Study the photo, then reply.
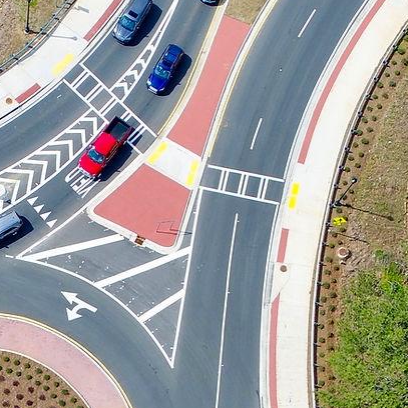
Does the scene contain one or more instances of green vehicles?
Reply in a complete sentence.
No, there isn't any green vehicle down there.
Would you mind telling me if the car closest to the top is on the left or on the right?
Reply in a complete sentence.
You can find the car closest to the top on the left side of the picture.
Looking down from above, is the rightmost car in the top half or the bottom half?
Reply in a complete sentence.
You can find the rightmost car in the top half.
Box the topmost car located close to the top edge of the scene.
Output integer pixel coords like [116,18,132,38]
[116,0,151,38]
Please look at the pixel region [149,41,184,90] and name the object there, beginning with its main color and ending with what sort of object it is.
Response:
blue car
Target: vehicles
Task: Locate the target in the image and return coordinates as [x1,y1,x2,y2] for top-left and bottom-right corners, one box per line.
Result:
[116,0,151,38]
[82,112,133,171]
[0,209,22,237]
[149,41,184,90]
